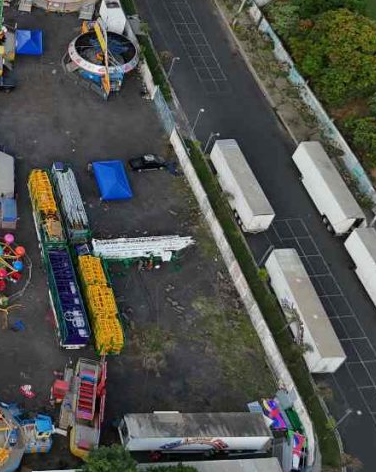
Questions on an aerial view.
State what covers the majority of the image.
paved ground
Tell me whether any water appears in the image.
No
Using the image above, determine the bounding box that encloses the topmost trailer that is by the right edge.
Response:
[292,143,367,242]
